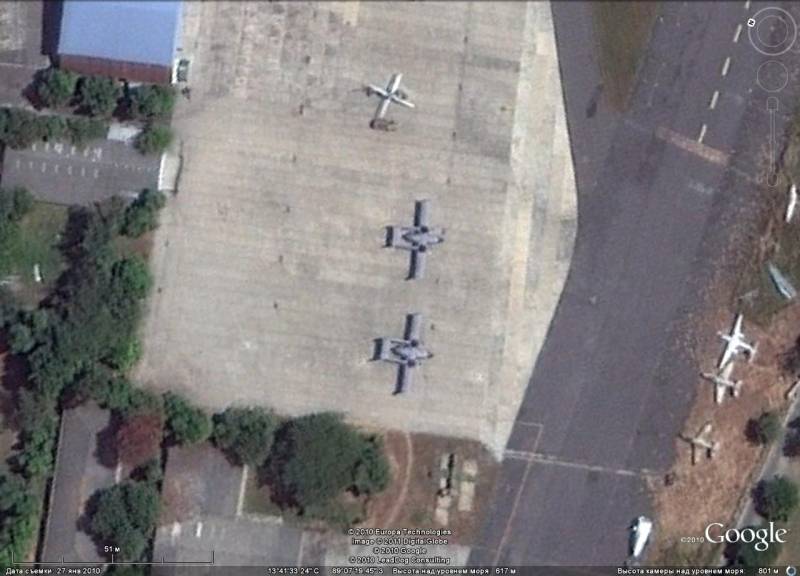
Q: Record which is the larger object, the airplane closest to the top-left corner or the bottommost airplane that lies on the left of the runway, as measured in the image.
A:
the bottommost airplane that lies on the left of the runway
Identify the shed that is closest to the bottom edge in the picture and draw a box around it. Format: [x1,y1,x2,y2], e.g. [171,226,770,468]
[107,124,139,145]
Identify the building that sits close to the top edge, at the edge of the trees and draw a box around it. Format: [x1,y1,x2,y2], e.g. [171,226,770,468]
[58,0,184,84]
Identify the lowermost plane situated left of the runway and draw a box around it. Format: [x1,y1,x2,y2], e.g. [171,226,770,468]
[380,314,435,393]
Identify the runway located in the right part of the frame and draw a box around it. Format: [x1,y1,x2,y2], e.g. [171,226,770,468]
[467,0,800,576]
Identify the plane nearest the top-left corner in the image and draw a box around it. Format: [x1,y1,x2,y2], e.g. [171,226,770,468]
[364,73,415,118]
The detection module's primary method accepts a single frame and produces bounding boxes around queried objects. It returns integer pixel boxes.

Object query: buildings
[107,124,139,145]
[58,0,184,84]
